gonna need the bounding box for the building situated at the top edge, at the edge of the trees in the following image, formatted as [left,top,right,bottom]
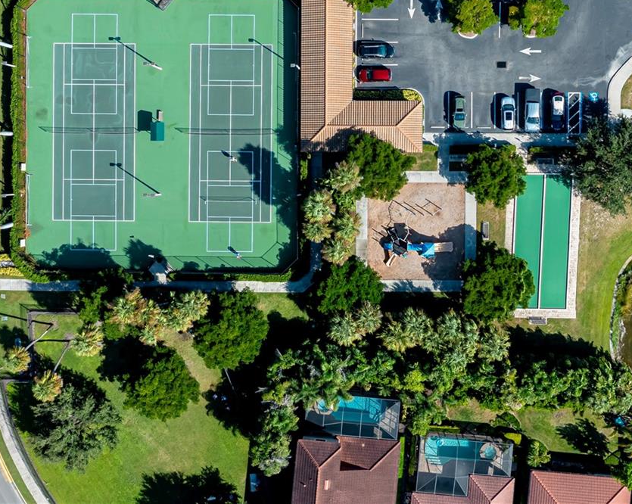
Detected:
[299,0,425,153]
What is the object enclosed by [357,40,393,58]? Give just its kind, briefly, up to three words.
car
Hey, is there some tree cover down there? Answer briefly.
Yes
